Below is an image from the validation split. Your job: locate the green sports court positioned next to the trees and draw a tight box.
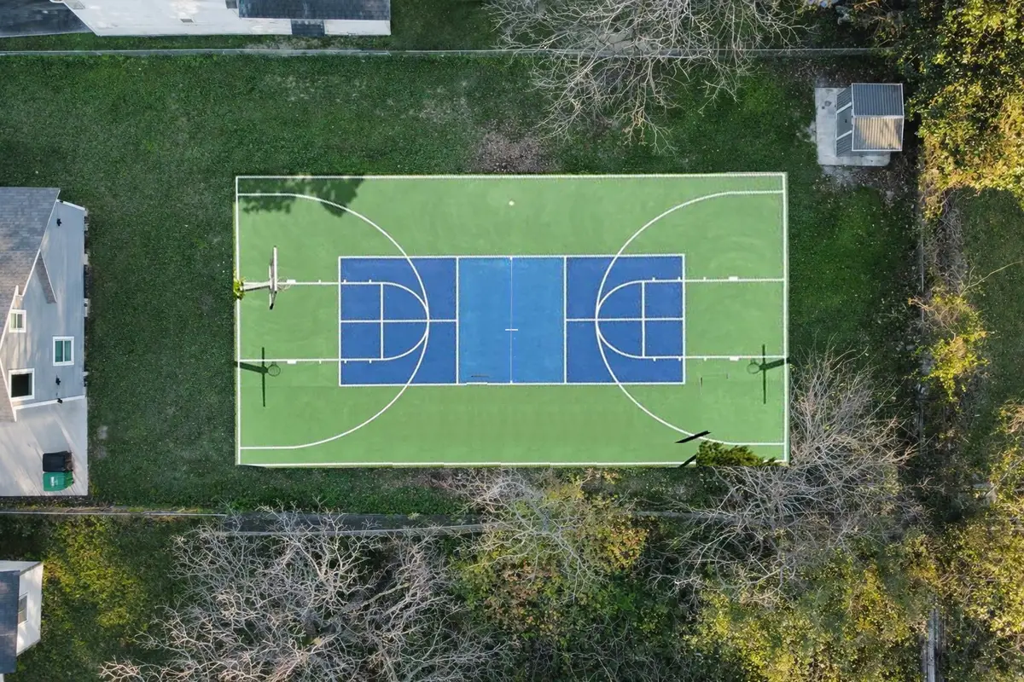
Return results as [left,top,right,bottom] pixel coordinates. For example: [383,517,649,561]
[234,172,791,467]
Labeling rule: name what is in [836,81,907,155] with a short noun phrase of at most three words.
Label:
shed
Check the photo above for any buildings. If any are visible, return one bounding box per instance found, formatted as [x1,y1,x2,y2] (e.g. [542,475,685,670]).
[0,187,90,422]
[0,561,44,676]
[70,0,391,35]
[836,81,907,155]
